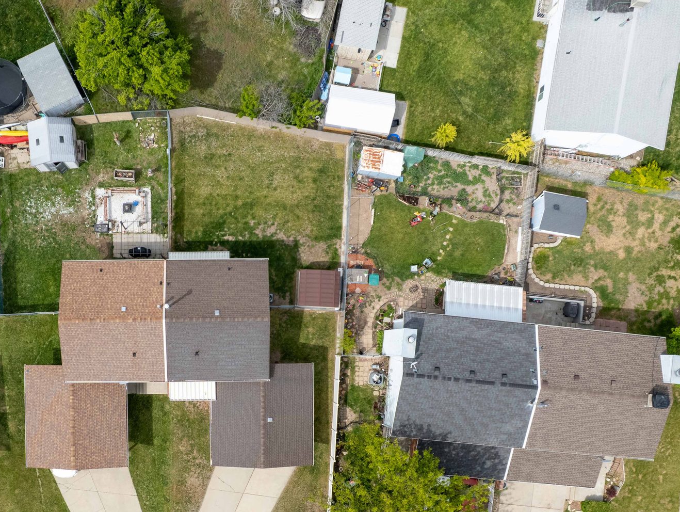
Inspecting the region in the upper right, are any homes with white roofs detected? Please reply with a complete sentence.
Yes, a home with a white roof appears in the upper right.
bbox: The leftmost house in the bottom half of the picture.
[24,250,315,470]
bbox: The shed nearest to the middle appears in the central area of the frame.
[296,269,339,309]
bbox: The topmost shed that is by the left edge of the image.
[18,42,88,118]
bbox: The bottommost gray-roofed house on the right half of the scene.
[380,280,680,495]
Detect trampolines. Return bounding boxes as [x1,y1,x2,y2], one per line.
[0,54,30,120]
[388,131,399,143]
